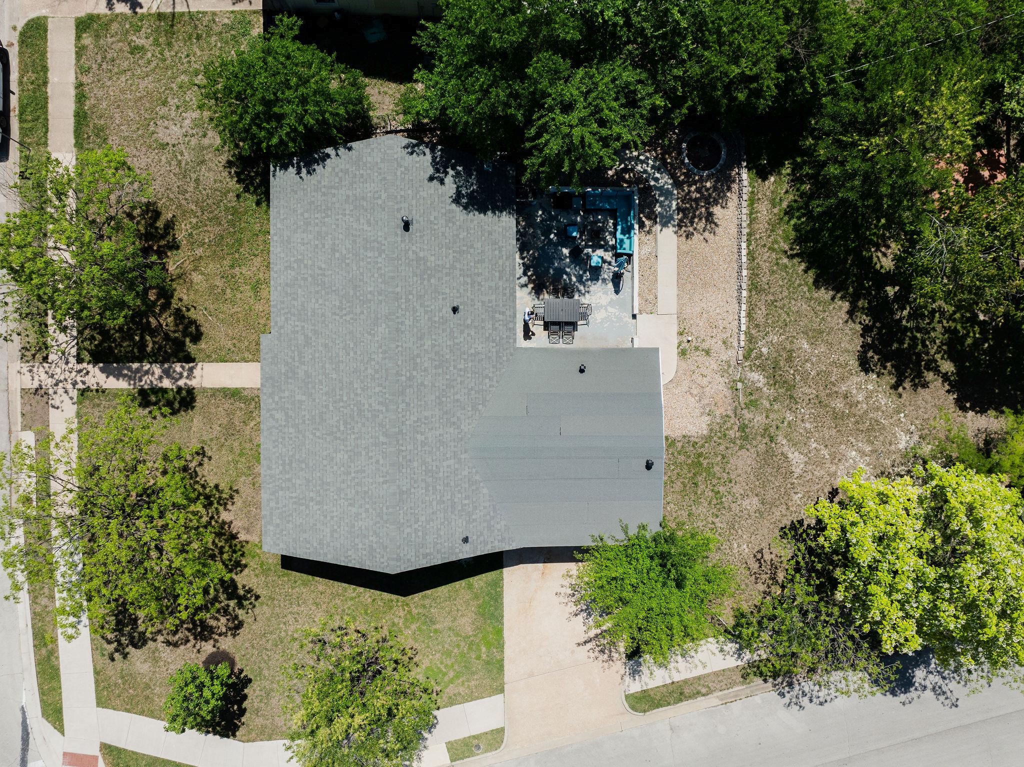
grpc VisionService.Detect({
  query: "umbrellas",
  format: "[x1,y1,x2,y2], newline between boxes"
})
[611,255,634,280]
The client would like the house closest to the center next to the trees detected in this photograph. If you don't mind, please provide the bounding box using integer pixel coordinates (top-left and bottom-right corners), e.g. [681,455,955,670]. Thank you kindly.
[261,133,666,574]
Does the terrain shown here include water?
No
